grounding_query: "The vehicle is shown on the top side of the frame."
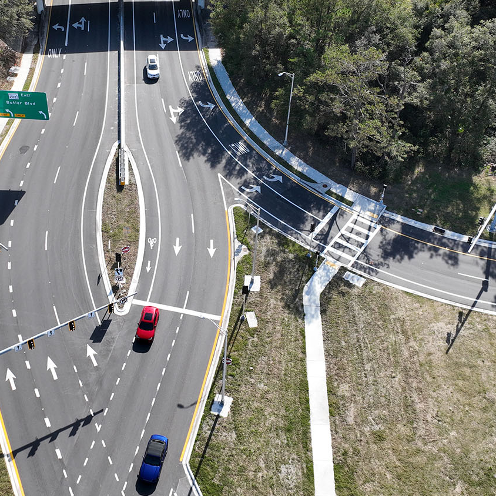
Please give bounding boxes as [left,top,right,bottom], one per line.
[144,56,161,80]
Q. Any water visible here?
No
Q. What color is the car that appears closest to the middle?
red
